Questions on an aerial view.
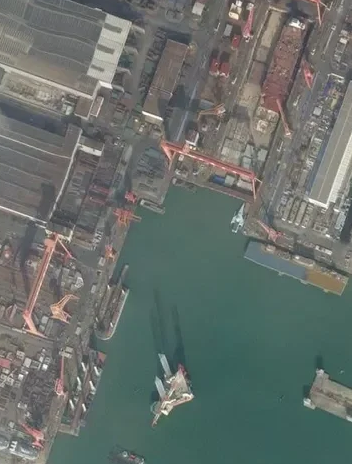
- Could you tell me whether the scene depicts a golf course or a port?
port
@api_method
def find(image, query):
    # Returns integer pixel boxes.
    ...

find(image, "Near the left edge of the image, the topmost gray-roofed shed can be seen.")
[0,0,133,100]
